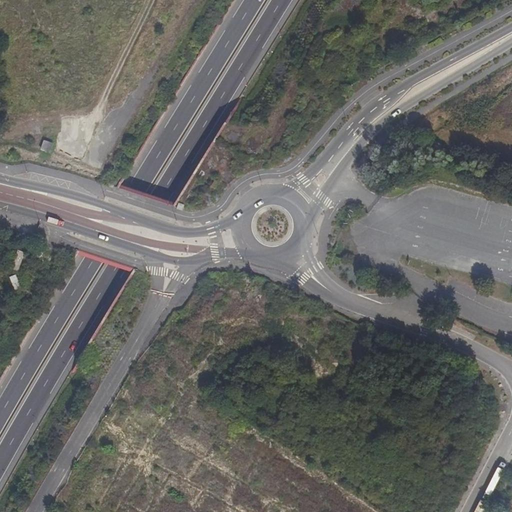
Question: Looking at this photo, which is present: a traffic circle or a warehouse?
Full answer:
Looking from above, you can make out a traffic circle.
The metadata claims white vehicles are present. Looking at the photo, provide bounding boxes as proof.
[472,496,487,512]
[254,199,264,208]
[98,235,108,242]
[392,108,402,116]
[233,210,244,220]
[46,216,64,226]
[484,460,507,496]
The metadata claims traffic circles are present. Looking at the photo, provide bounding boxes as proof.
[198,154,342,290]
